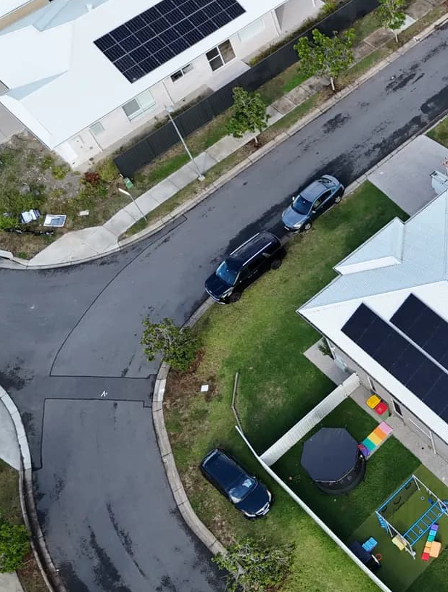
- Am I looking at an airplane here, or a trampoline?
trampoline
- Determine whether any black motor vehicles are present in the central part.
Yes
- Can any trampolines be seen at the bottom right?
Yes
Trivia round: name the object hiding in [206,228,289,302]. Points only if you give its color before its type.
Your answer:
black car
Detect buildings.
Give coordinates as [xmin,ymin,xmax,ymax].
[0,0,293,169]
[293,185,448,461]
